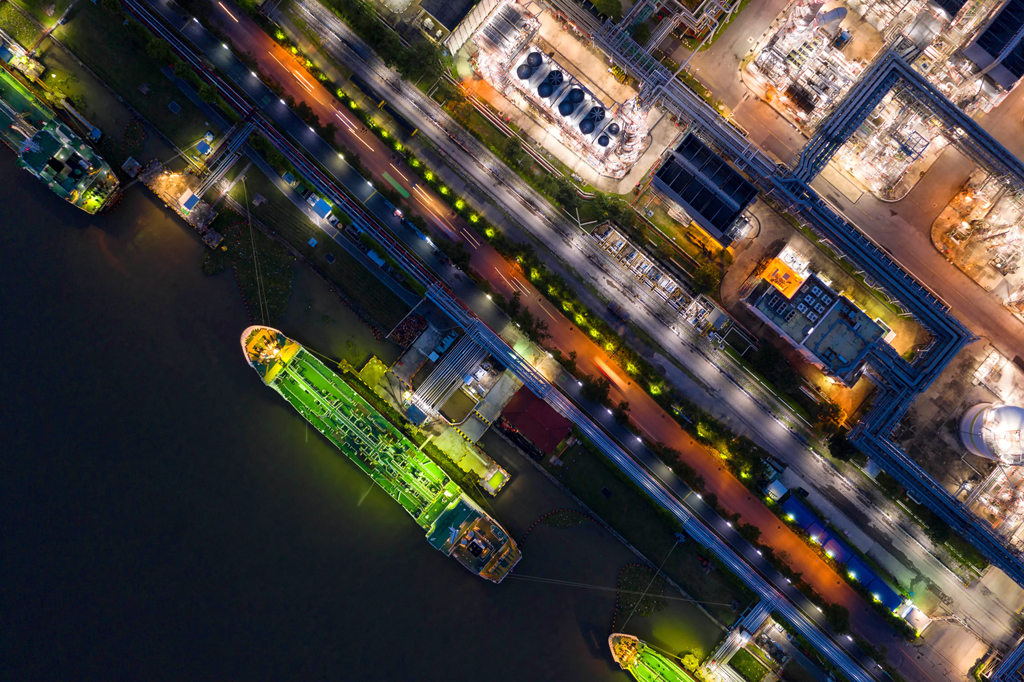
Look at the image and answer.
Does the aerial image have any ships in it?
Yes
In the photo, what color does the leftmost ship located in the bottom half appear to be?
green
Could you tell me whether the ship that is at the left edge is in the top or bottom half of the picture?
top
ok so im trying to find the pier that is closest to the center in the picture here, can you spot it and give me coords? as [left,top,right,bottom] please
[359,323,530,496]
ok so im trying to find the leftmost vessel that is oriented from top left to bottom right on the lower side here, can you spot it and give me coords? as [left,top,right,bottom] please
[238,323,523,583]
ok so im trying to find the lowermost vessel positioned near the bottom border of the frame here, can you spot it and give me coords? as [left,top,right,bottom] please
[606,631,703,682]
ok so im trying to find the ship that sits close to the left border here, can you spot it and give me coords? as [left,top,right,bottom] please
[0,67,130,215]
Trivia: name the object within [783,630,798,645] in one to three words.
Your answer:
car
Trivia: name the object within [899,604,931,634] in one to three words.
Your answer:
shed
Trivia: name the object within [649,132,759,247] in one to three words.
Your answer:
cooling tower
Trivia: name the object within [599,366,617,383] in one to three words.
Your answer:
vehicle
